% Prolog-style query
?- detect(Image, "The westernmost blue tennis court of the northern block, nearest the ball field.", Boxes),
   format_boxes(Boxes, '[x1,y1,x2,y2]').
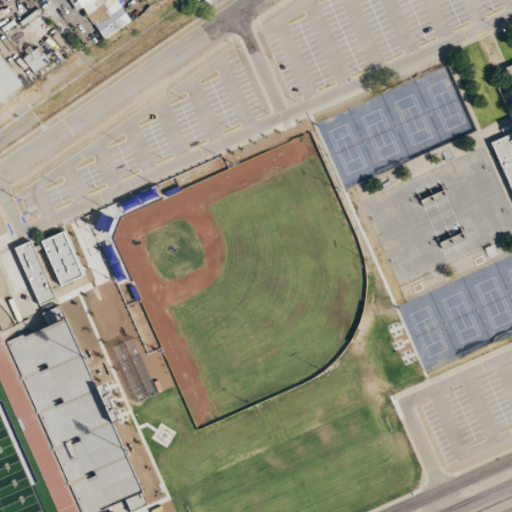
[317,110,378,189]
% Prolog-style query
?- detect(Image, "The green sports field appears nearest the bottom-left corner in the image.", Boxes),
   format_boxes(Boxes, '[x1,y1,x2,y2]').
[0,379,58,512]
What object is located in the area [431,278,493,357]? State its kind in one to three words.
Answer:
tennis court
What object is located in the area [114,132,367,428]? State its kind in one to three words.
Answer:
baseball field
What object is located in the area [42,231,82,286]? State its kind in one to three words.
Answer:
building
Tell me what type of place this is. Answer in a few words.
sports ground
